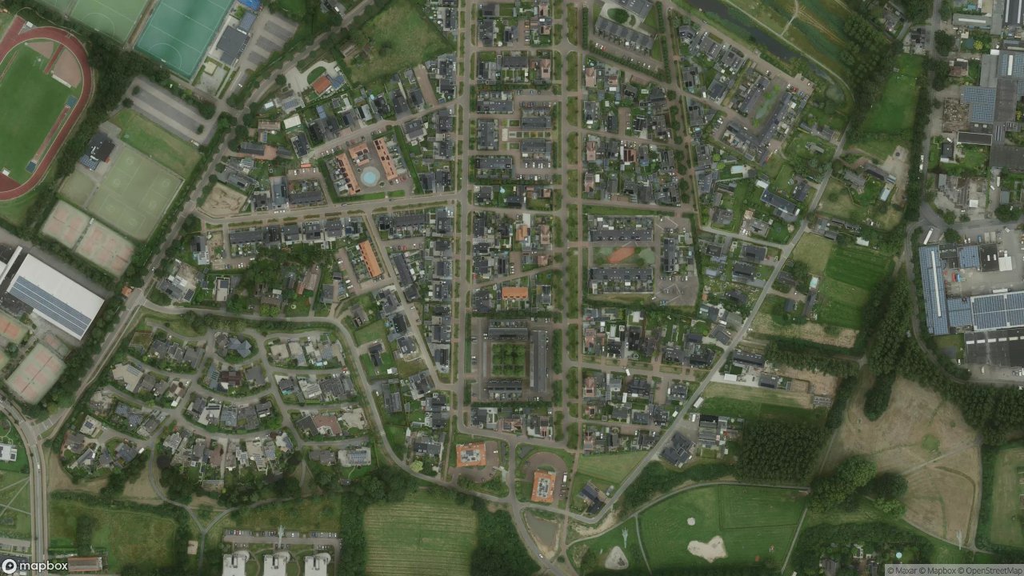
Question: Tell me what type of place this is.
residential area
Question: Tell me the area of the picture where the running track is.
top left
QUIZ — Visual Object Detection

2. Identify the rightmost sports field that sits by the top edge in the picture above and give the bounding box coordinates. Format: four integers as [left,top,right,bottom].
[134,0,244,80]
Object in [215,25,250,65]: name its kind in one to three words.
building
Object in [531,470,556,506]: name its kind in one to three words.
house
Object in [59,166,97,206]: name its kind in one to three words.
sports field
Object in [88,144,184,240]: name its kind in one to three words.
sports field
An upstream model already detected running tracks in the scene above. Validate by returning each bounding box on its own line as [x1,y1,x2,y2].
[0,15,94,199]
